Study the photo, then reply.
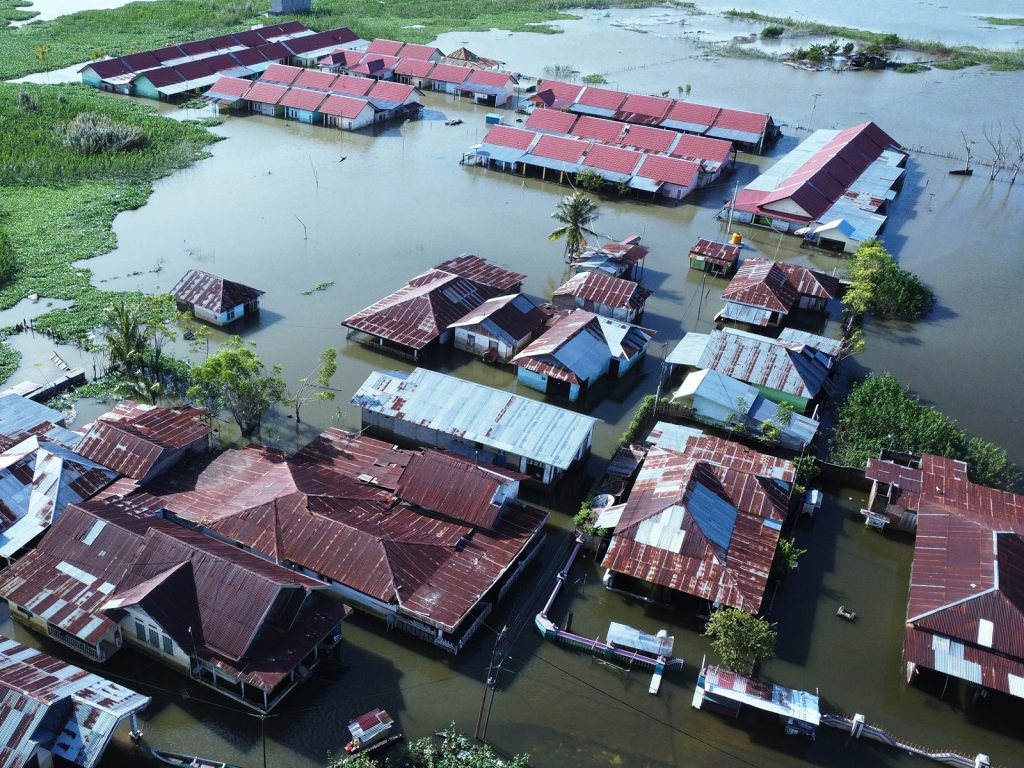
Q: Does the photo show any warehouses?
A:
Yes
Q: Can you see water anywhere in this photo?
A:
Yes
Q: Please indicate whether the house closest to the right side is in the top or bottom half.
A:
bottom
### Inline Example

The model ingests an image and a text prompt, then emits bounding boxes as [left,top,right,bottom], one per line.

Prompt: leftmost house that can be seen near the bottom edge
[0,634,152,768]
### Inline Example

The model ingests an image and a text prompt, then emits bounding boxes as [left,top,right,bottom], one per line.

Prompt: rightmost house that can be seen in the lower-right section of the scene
[901,452,1024,705]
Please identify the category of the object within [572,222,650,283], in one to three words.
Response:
shed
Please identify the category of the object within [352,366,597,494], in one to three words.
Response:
warehouse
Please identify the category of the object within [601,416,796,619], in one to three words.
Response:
house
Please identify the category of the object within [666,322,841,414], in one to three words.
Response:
building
